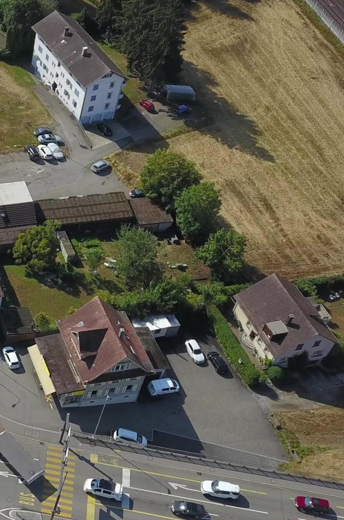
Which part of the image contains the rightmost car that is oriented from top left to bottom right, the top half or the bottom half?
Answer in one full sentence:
It is in the bottom half that the rightmost car that is oriented from top left to bottom right appears.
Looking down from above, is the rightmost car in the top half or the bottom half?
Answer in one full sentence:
The bottom half of the photo is where the rightmost car is.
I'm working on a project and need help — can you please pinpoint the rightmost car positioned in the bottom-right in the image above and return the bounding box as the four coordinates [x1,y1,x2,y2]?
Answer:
[293,494,332,516]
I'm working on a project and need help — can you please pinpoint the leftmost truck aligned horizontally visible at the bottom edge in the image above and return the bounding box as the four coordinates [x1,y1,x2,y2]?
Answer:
[83,477,126,501]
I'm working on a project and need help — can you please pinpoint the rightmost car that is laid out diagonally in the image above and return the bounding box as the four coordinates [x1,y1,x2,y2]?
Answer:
[205,350,228,377]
